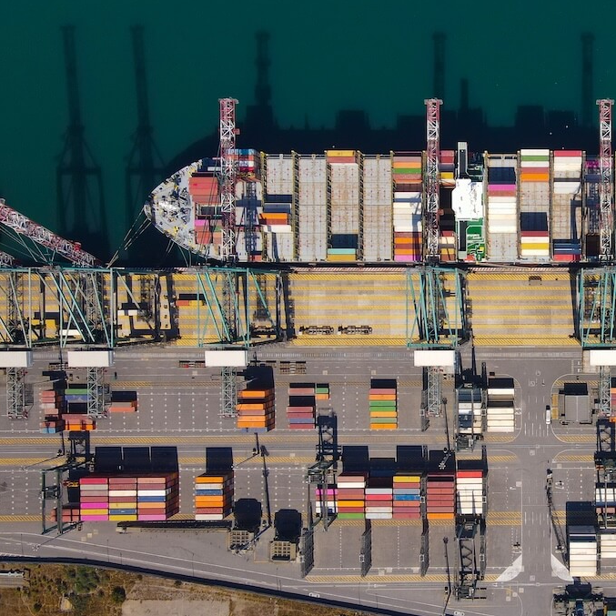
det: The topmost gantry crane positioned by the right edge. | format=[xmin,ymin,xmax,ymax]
[569,97,616,420]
